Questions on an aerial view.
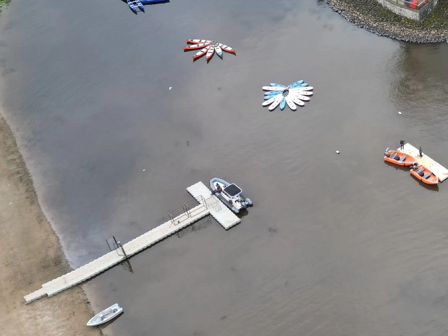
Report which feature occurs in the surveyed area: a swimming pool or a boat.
boat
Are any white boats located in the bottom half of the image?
Yes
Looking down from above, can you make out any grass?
No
